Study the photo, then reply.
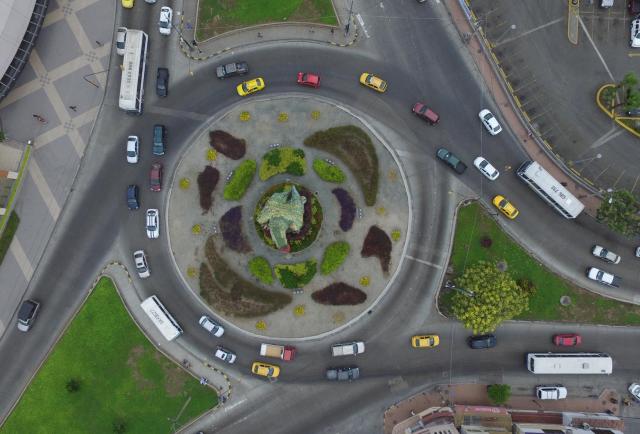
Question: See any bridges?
No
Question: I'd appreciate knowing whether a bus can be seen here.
Yes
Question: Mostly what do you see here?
paved ground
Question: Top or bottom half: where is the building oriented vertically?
top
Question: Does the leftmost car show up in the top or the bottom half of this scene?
bottom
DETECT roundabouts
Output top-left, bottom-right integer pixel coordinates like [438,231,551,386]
[163,93,411,341]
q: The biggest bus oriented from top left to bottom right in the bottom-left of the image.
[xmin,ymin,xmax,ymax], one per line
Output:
[142,295,183,342]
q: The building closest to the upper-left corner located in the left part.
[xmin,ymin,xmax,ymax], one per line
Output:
[0,0,51,107]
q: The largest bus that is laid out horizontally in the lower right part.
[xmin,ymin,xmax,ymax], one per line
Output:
[522,351,611,374]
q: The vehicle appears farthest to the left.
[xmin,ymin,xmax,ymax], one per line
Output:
[18,300,39,330]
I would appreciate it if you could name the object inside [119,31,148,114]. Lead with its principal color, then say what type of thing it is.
white bus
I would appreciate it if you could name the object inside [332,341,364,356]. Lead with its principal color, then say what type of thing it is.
white vehicle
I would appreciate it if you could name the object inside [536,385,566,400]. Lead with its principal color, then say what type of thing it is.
white car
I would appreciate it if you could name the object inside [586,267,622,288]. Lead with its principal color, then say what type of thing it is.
white truck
